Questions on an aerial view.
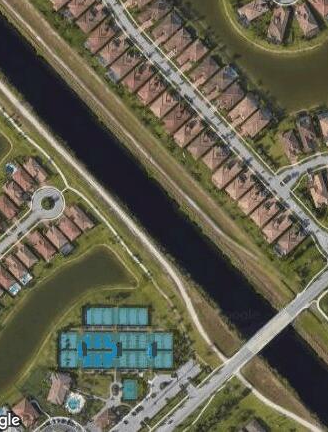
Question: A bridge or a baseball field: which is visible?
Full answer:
Of the two, only a bridge appears.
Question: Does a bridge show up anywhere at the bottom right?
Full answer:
Yes, a bridge is visible at the bottom right.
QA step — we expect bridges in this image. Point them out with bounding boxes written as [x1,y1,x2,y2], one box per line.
[244,307,296,359]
